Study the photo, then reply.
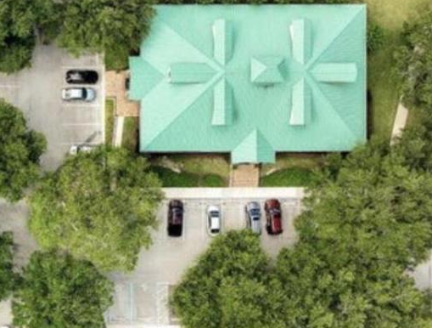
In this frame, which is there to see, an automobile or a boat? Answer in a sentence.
Looking from above, you can make out an automobile.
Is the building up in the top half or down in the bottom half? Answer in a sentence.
You can find the building in the top half.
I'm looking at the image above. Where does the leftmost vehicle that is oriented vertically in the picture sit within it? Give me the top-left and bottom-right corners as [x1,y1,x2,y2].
[167,199,185,236]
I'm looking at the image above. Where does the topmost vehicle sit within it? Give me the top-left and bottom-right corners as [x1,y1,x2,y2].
[64,69,98,85]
